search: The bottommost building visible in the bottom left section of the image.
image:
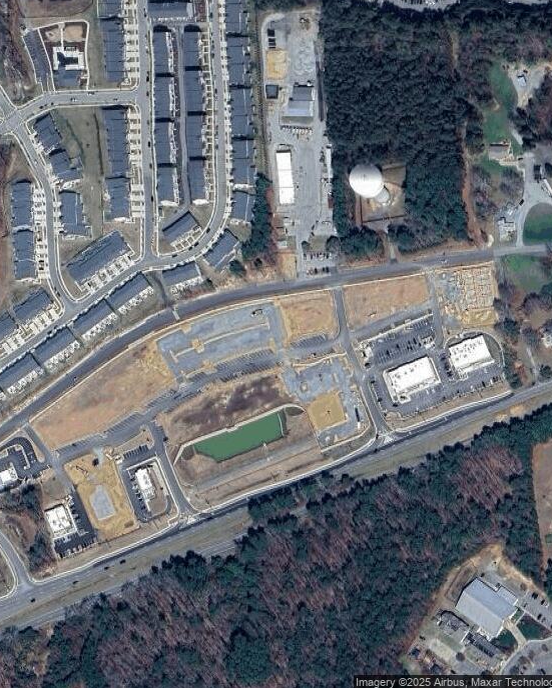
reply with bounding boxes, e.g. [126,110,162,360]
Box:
[46,506,75,539]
